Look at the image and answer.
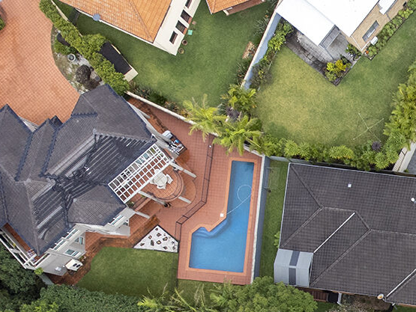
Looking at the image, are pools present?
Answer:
Yes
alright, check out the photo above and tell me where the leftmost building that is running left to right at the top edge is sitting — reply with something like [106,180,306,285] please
[66,0,200,57]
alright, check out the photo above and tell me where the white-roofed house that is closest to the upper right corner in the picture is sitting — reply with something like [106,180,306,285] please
[272,0,393,54]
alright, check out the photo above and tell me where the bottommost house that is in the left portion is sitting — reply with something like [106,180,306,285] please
[0,82,173,273]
